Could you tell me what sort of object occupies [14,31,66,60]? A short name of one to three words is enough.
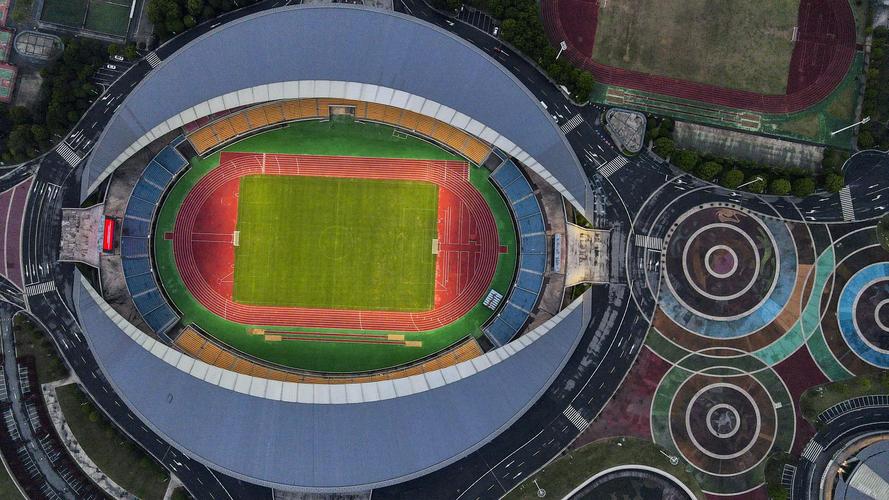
sports court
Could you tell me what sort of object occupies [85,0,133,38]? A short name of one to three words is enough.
soccer field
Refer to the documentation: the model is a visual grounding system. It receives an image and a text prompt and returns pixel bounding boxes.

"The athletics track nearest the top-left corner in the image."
[158,153,508,332]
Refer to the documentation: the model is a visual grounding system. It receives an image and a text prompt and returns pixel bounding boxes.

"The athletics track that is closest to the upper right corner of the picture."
[541,0,863,105]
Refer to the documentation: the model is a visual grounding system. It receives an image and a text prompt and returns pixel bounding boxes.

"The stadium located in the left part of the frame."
[55,0,614,500]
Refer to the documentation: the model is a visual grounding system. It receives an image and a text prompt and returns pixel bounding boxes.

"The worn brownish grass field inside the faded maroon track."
[591,0,800,95]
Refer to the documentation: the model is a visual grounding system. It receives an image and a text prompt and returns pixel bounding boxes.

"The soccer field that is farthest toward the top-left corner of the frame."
[41,0,88,30]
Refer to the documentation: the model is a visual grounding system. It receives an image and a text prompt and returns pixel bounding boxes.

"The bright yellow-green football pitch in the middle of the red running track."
[234,176,438,311]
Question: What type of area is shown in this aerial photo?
sports ground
